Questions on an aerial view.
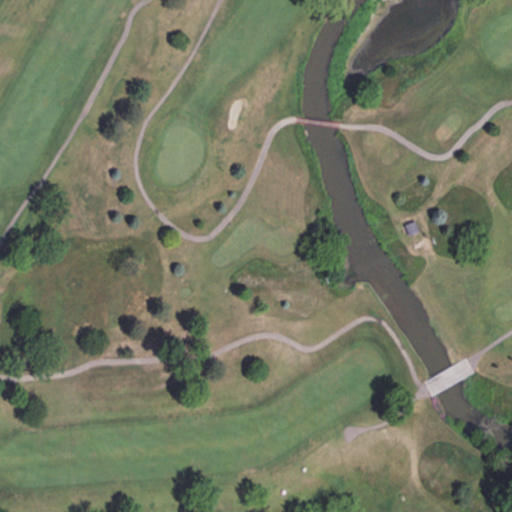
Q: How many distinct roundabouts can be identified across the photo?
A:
0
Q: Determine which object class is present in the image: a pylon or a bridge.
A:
bridge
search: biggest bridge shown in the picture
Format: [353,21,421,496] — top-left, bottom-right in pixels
[424,358,476,398]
